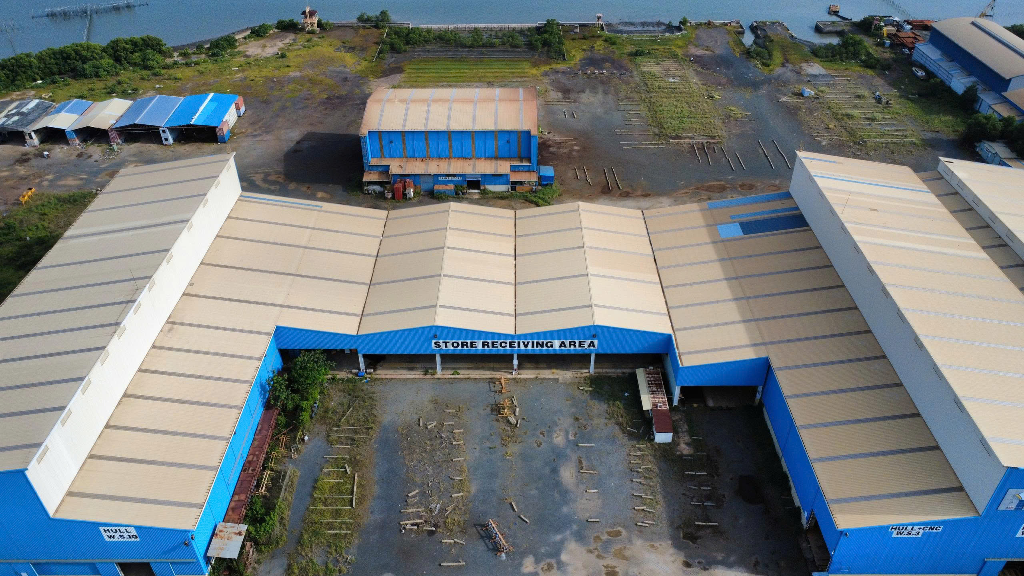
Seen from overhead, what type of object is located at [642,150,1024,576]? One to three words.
building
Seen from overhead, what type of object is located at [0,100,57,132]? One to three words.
shed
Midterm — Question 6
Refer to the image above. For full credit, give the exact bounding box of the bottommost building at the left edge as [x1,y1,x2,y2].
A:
[0,152,325,576]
